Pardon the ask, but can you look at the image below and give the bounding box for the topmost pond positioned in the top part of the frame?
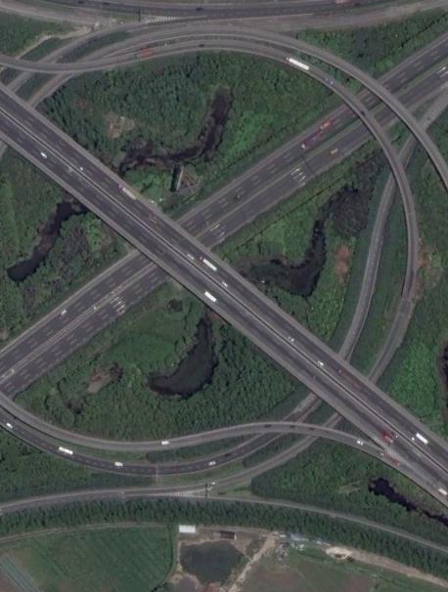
[120,88,232,171]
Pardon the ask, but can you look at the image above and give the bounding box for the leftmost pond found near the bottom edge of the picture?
[181,541,241,583]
